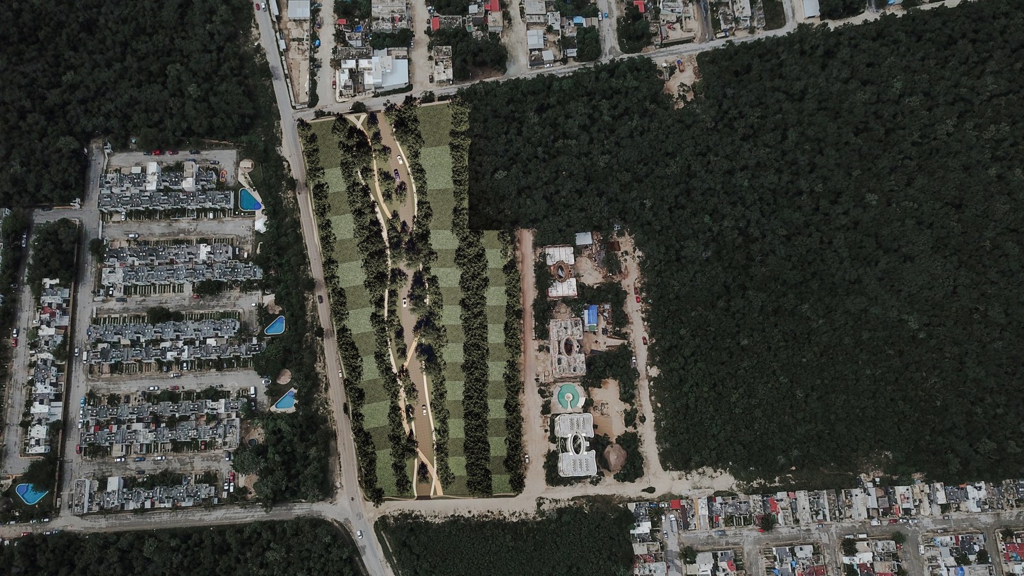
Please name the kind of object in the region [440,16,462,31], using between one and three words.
house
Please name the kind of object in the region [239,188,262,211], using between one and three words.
swimming pool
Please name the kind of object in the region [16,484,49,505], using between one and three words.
swimming pool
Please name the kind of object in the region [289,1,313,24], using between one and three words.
building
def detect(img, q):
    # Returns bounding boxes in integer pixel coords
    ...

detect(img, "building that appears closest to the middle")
[545,246,577,301]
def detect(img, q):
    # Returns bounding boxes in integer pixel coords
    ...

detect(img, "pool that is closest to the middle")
[557,385,580,410]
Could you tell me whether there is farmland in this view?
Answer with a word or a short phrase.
No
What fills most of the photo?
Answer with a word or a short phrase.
trees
